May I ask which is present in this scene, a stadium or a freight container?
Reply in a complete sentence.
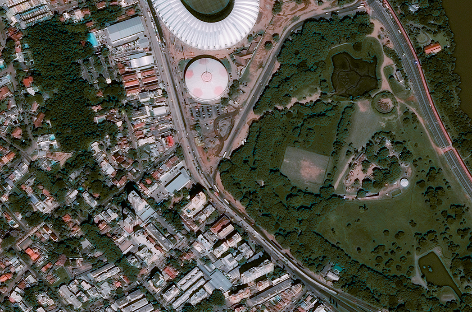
The image shows a stadium.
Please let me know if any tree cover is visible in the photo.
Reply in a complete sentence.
Yes, some tree cover is visible.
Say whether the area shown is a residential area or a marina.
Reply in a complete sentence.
This looks like a residential area.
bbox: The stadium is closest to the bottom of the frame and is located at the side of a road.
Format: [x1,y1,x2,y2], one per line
[184,57,229,103]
